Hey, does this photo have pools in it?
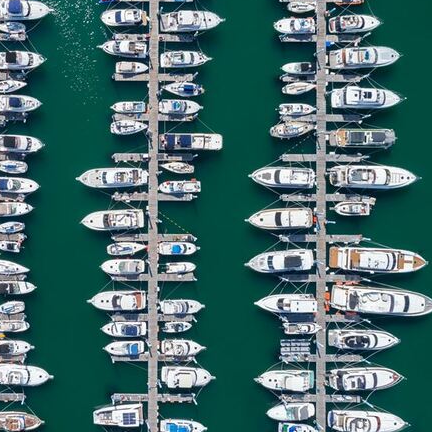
No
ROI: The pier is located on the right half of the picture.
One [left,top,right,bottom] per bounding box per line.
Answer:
[280,0,367,432]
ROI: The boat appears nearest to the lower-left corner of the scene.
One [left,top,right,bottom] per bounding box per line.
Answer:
[0,399,46,432]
